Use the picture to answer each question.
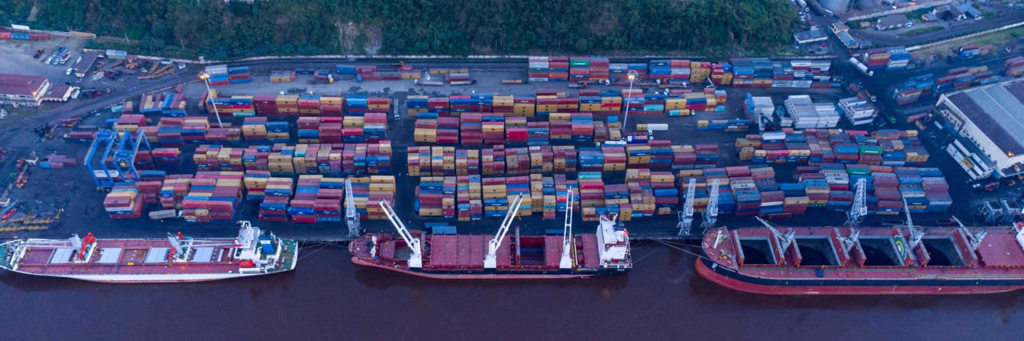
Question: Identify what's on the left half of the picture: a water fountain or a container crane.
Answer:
container crane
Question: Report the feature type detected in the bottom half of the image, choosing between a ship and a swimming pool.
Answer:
ship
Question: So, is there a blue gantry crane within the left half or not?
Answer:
Yes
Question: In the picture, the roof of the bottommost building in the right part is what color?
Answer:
blue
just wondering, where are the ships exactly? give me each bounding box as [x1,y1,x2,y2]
[0,218,297,283]
[697,197,1024,295]
[349,186,637,279]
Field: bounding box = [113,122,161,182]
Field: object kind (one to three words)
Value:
container crane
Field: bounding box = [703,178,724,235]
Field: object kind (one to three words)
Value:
container crane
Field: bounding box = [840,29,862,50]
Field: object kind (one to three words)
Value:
shed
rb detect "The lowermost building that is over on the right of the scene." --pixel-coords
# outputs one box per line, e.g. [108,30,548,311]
[935,76,1024,179]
